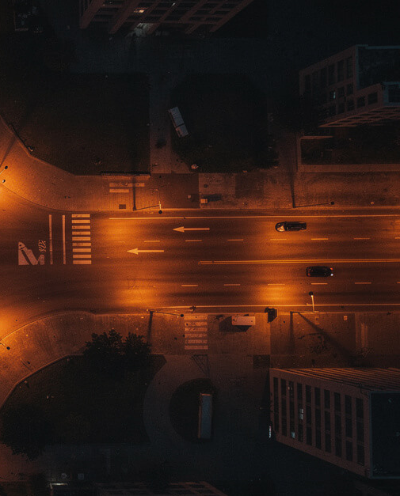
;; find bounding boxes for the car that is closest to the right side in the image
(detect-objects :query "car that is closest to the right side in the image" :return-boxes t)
[308,265,336,278]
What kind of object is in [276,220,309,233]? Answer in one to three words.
vehicle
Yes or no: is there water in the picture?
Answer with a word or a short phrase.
No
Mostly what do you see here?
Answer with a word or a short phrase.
paved ground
